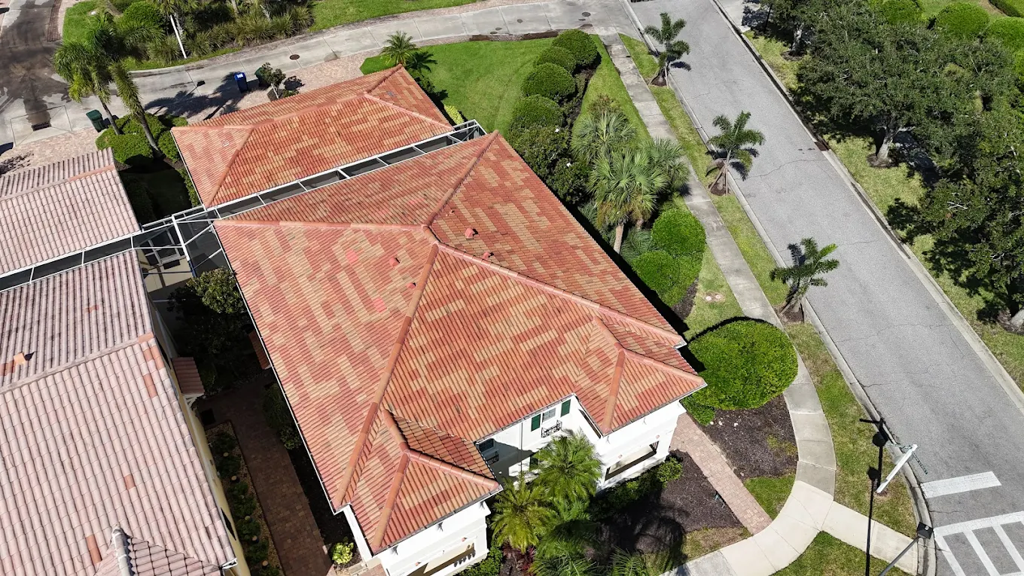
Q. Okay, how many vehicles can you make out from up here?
0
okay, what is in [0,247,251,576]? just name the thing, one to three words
house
